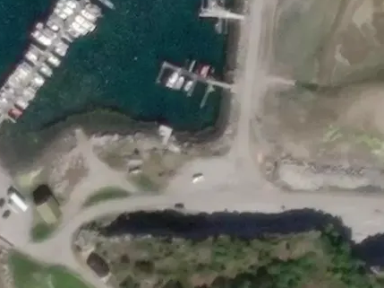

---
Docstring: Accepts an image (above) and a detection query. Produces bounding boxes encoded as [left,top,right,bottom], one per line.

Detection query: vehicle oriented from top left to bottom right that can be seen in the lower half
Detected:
[7,191,27,212]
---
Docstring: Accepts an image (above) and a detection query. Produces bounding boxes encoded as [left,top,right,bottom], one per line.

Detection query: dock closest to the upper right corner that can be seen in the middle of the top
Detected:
[199,0,238,35]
